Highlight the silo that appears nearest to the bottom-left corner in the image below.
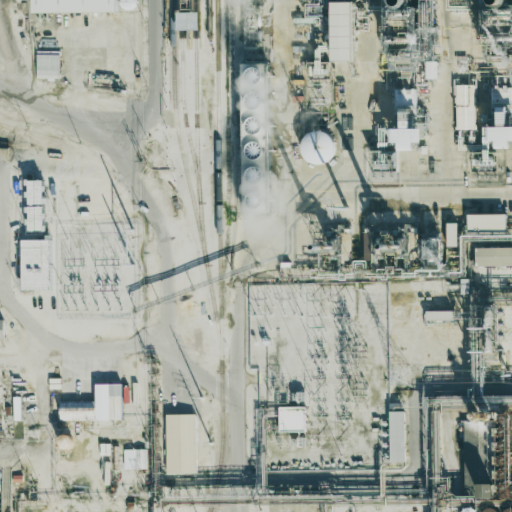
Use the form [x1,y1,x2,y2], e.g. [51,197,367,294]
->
[56,430,78,450]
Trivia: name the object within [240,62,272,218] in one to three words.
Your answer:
cooling tower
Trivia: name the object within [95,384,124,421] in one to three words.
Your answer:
building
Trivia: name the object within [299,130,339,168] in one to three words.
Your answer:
storage tank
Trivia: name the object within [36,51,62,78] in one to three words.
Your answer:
shed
